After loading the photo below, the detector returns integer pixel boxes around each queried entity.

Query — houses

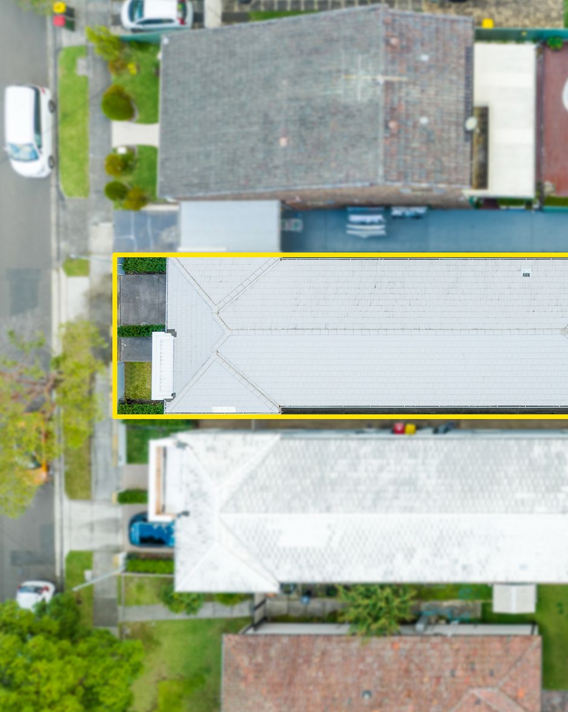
[153,255,568,417]
[158,5,475,201]
[220,594,543,712]
[149,427,568,594]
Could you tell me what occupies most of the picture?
buildings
